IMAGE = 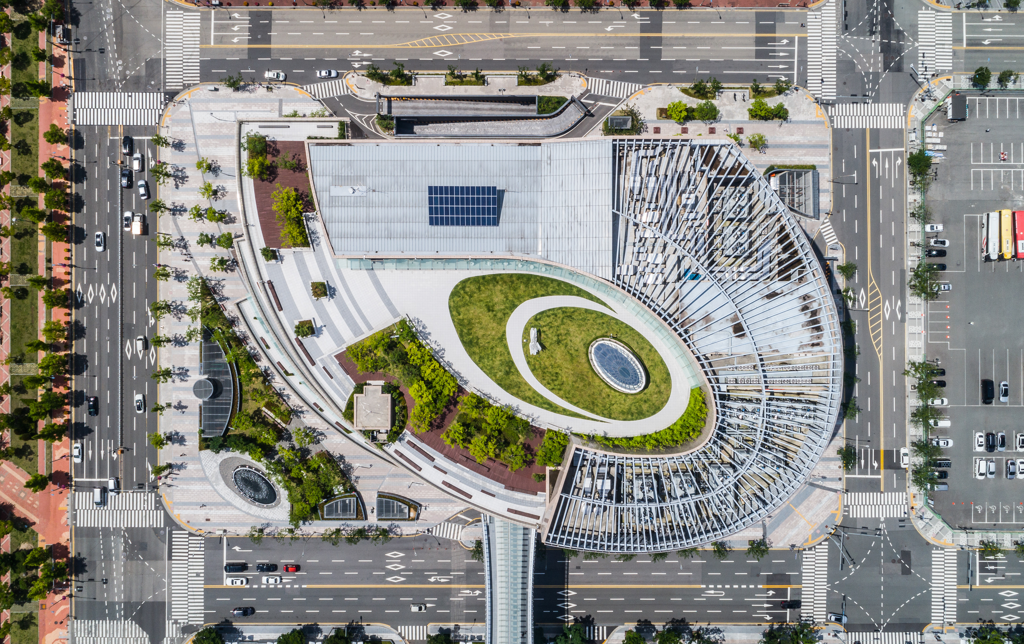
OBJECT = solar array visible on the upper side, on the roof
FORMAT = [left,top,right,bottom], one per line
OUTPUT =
[428,186,497,226]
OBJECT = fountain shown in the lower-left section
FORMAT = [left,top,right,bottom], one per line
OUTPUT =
[233,468,278,505]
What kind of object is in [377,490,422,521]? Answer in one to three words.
building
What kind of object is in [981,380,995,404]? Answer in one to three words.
car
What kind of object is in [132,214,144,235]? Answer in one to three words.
vehicle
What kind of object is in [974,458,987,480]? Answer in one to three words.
vehicle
